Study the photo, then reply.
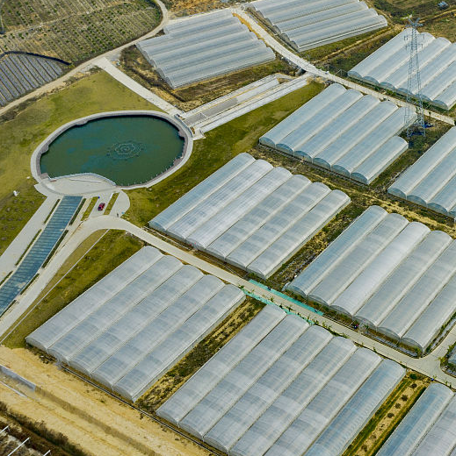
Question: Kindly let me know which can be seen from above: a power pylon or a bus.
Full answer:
It is a power pylon that can be seen here.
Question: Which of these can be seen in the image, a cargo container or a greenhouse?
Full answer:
The one in the frame is a greenhouse.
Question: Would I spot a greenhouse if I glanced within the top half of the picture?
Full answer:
Yes, the scene does show a greenhouse within the top half of the picture.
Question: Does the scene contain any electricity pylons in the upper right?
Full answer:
Yes, an electricity pylon can be seen in the upper right.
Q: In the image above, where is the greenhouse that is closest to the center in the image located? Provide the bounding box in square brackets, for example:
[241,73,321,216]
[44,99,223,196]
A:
[146,151,353,282]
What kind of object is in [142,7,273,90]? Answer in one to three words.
greenhouse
